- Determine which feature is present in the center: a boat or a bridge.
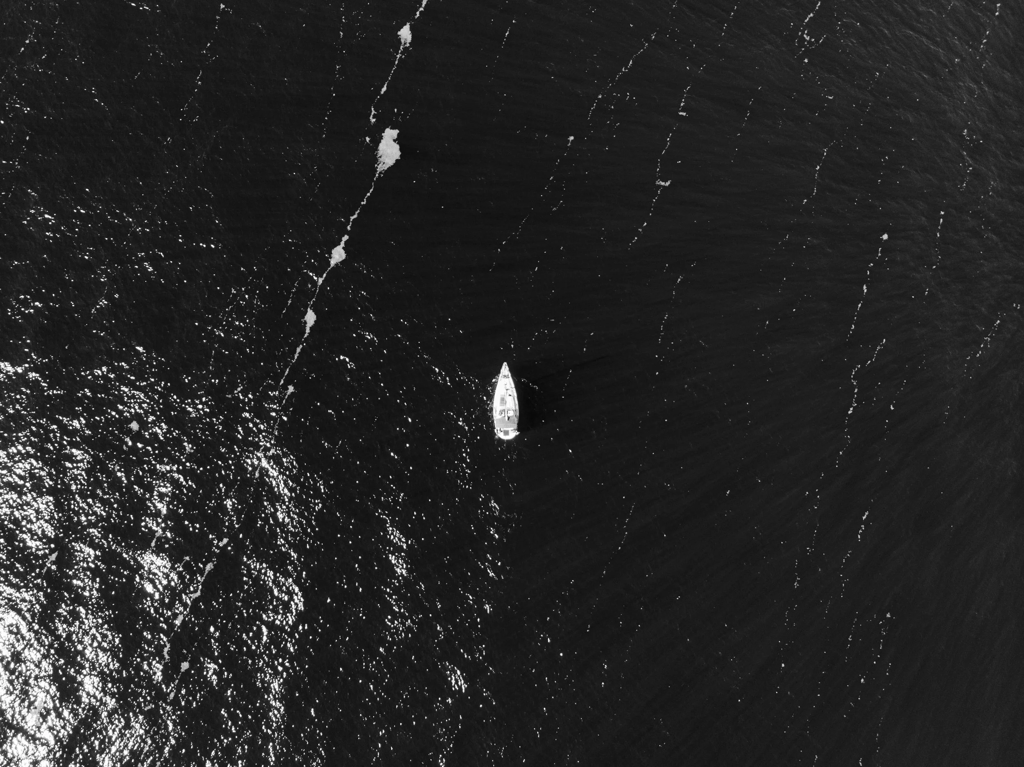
boat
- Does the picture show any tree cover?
No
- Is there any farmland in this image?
No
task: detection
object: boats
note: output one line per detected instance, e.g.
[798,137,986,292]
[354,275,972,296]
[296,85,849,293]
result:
[493,362,519,440]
